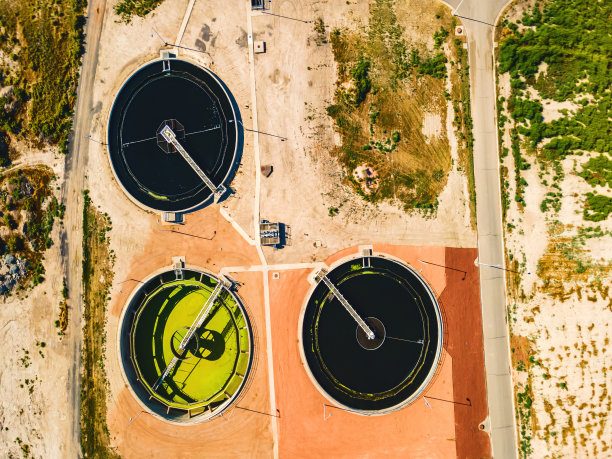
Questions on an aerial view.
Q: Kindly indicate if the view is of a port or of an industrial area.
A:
industrial area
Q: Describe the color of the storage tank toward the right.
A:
black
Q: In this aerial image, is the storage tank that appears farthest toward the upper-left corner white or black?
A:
black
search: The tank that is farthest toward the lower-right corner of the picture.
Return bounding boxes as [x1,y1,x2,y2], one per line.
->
[298,252,442,414]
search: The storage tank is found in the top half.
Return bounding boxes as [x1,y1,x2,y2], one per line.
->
[106,57,240,213]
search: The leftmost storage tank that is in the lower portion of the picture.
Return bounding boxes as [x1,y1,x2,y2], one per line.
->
[116,265,252,426]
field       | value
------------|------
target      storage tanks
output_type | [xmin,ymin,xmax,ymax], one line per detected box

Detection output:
[298,252,442,414]
[106,57,240,213]
[116,265,252,426]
